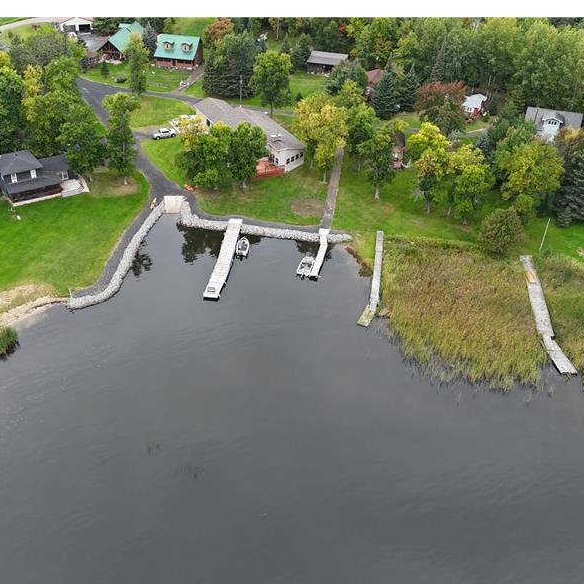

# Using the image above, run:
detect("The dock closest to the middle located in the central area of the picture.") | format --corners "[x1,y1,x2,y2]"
[308,230,330,279]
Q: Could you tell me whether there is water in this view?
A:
Yes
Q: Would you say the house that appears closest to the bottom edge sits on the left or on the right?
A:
left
